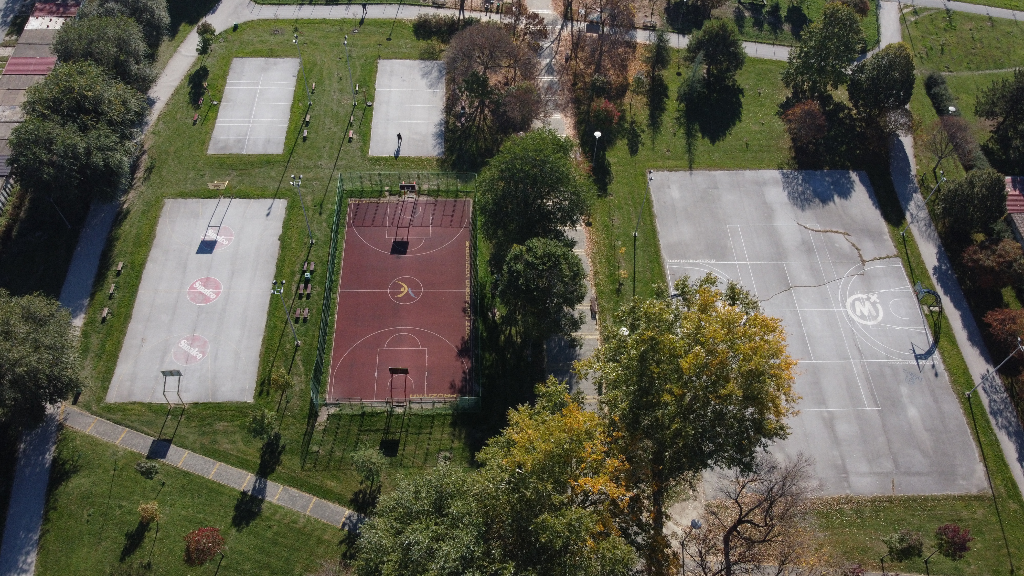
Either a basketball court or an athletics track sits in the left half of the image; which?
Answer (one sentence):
It is a basketball court that can be seen in the left half of the image.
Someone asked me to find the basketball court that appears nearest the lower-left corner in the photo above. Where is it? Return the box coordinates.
[106,199,287,403]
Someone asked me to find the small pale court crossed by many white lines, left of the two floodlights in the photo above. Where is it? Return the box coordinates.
[208,57,300,154]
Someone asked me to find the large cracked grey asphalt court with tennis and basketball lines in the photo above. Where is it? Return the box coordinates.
[649,170,987,497]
